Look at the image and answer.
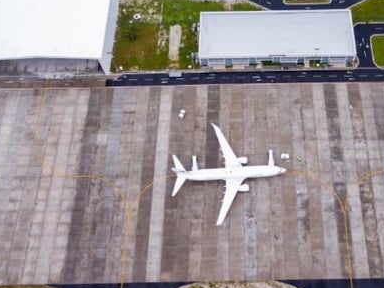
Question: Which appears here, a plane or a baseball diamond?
plane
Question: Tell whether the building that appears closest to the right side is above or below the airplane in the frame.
above it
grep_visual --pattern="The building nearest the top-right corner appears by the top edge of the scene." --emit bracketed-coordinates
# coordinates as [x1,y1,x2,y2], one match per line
[199,11,356,65]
